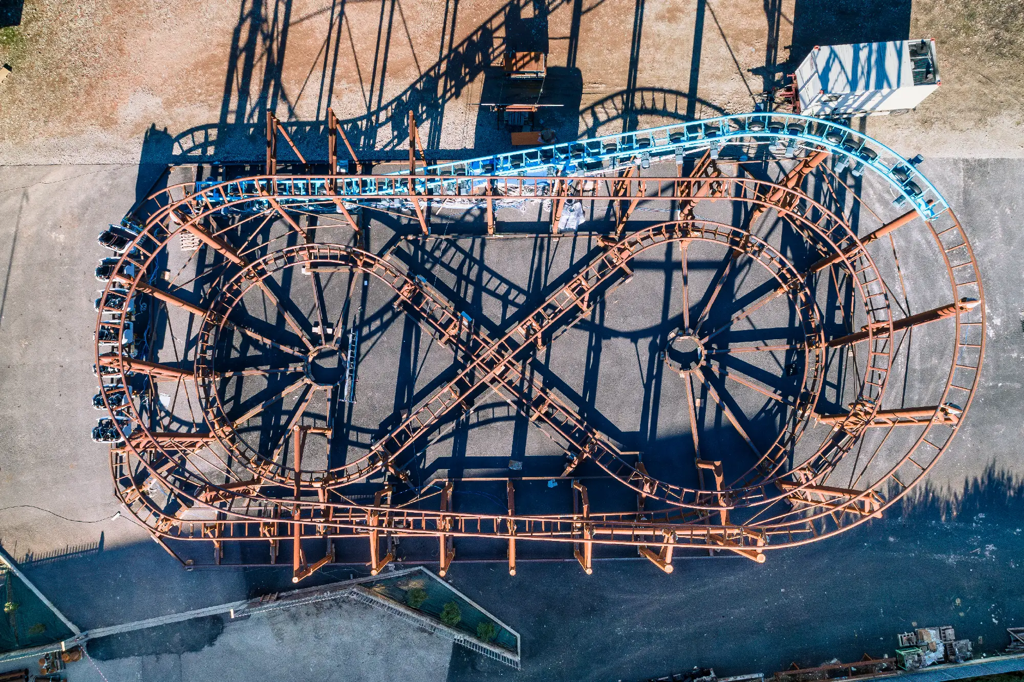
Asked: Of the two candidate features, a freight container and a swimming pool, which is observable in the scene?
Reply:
freight container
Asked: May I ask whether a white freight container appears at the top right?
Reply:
Yes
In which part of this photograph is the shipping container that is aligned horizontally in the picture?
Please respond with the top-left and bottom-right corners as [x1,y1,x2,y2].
[798,39,940,114]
